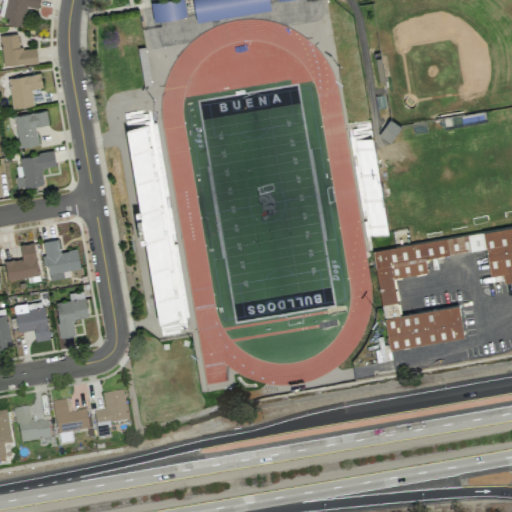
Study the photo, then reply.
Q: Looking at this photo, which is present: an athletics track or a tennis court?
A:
athletics track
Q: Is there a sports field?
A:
Yes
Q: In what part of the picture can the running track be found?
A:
center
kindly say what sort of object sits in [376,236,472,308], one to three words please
building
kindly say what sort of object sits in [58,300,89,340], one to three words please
house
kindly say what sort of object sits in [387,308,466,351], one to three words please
building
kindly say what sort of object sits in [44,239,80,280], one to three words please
house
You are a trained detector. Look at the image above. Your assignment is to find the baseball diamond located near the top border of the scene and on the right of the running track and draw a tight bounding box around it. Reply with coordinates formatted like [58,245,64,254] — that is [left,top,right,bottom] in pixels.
[388,0,512,123]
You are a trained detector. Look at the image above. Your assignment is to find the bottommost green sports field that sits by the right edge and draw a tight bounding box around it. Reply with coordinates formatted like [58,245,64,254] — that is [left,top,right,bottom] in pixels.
[382,107,512,245]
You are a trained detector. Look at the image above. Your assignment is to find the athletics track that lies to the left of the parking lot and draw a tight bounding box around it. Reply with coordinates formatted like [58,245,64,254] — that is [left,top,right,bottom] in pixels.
[162,20,372,384]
